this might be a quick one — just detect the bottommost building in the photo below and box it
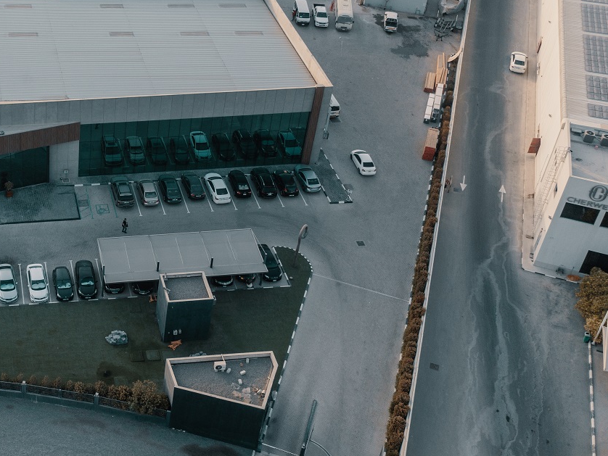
[163,351,278,450]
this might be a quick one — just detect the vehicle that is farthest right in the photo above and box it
[510,52,529,73]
